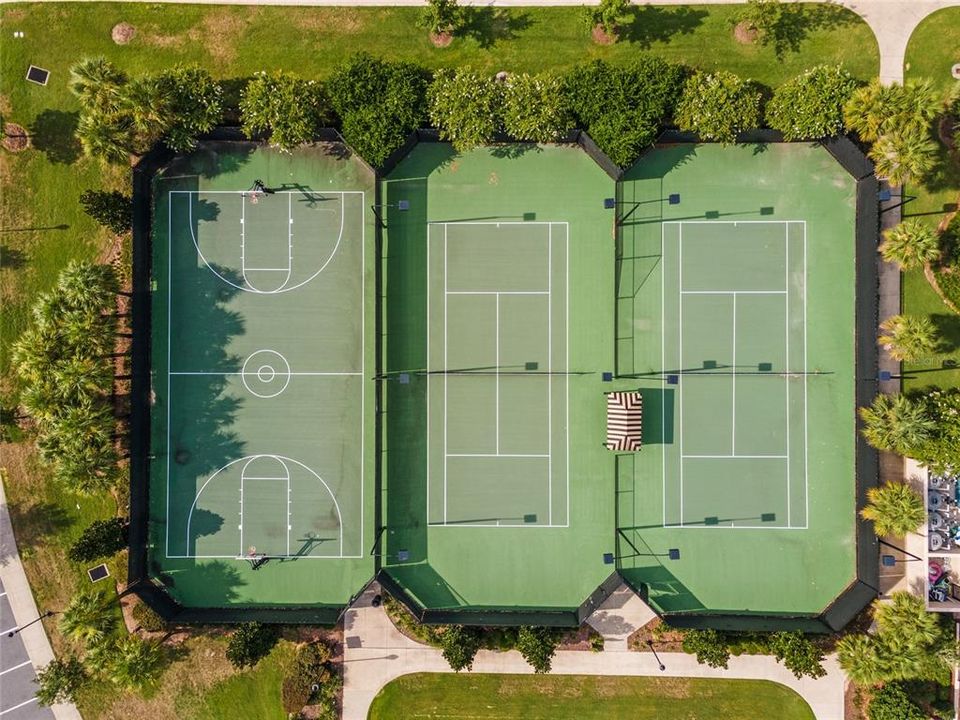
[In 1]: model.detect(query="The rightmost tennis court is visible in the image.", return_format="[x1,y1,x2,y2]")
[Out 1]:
[618,142,857,613]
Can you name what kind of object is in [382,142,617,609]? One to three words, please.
tennis court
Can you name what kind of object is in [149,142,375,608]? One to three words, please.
basketball court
